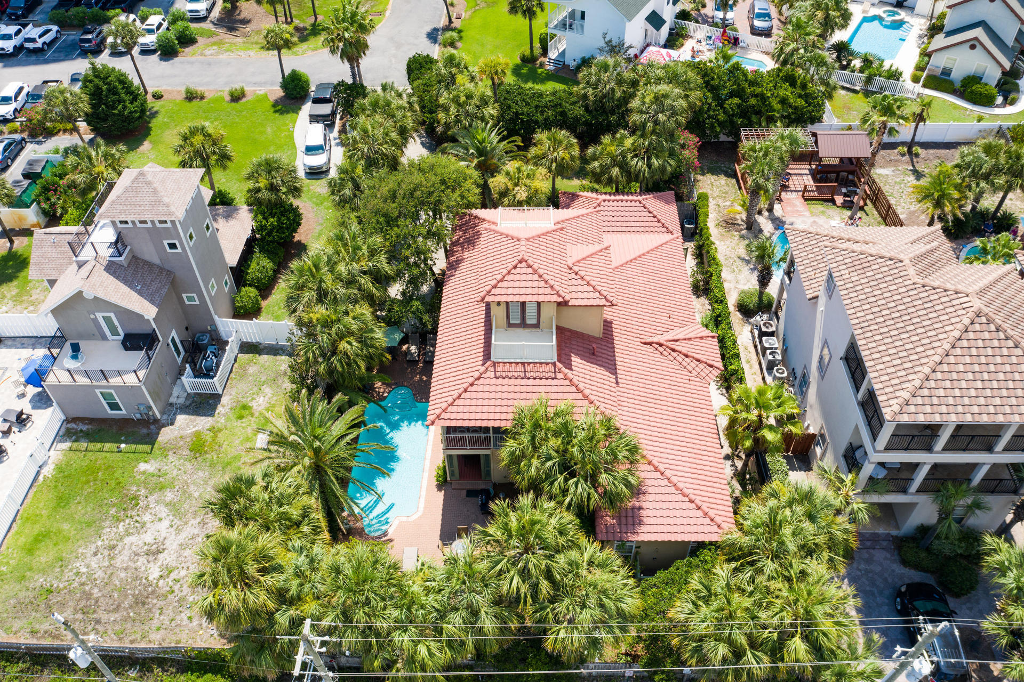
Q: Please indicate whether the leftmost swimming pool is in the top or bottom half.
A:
bottom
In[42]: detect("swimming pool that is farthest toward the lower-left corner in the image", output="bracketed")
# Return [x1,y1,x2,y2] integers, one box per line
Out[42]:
[341,381,433,541]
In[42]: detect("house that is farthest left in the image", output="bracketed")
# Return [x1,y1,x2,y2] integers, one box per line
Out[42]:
[27,165,260,422]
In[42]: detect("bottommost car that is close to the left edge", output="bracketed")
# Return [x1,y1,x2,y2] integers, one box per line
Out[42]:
[0,128,31,166]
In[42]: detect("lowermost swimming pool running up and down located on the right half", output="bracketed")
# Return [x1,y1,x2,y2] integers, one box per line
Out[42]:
[770,229,799,291]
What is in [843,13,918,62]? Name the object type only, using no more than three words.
swimming pool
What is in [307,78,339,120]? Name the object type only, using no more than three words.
truck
